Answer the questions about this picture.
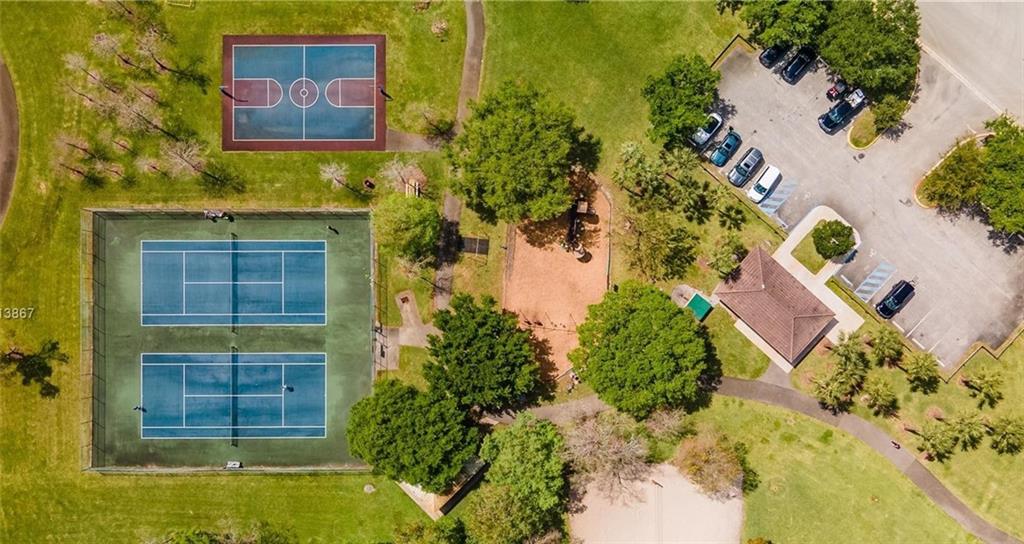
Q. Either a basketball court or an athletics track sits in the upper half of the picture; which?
basketball court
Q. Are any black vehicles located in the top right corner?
Yes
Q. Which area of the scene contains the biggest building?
right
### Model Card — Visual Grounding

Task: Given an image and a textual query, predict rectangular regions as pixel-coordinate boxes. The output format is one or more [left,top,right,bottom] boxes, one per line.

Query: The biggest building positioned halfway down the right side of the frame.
[716,246,835,362]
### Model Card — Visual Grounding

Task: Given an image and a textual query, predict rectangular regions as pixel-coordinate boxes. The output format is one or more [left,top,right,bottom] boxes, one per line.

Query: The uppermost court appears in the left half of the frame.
[222,35,386,151]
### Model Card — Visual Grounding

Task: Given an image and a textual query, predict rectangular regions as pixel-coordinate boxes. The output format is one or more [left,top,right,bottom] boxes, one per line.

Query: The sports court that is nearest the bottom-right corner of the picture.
[570,461,743,544]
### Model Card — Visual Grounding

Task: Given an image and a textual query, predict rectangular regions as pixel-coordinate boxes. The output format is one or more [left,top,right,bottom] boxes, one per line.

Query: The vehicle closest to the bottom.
[876,279,913,319]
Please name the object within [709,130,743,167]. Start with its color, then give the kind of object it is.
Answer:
blue car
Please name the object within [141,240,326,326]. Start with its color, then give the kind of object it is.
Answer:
blue tennis court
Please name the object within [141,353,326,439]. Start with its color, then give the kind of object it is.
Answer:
blue tennis court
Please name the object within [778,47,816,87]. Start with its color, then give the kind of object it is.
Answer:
black car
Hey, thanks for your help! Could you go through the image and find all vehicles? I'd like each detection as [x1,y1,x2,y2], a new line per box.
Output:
[756,37,790,71]
[727,146,765,187]
[709,130,743,167]
[819,89,865,131]
[746,164,783,204]
[778,47,816,87]
[690,111,724,148]
[876,279,913,319]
